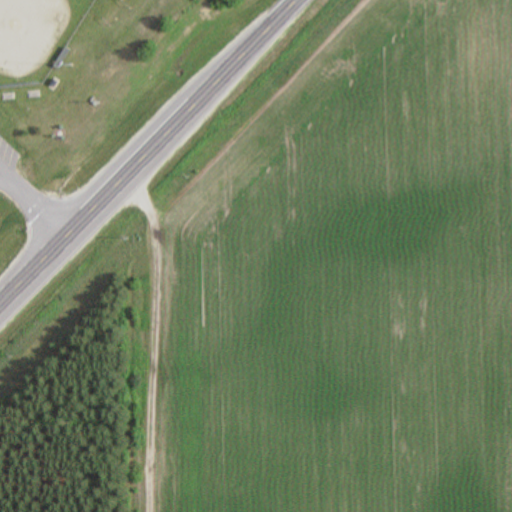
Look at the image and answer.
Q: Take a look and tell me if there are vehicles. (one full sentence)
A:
No, I can't see a single vehicle in this photo.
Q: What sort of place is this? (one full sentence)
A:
This looks like farmland.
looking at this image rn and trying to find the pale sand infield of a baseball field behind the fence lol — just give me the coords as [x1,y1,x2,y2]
[0,0,72,80]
